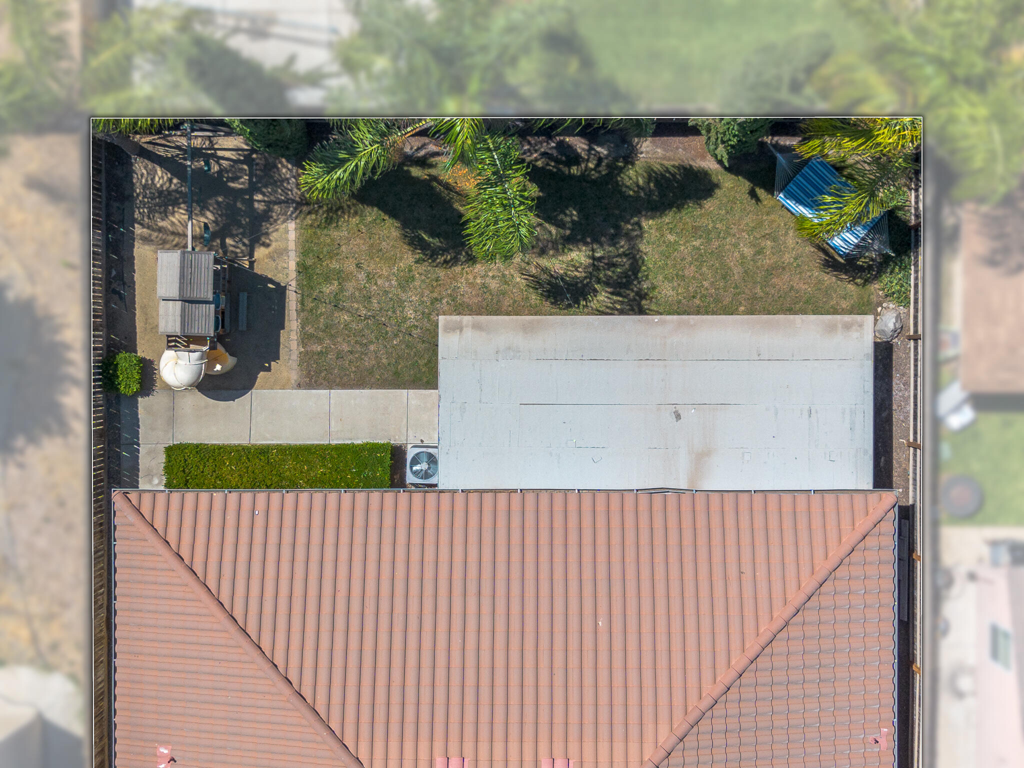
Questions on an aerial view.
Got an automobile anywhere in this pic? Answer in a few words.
No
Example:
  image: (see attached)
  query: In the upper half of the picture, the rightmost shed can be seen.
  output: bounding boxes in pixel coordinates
[939,202,1024,394]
